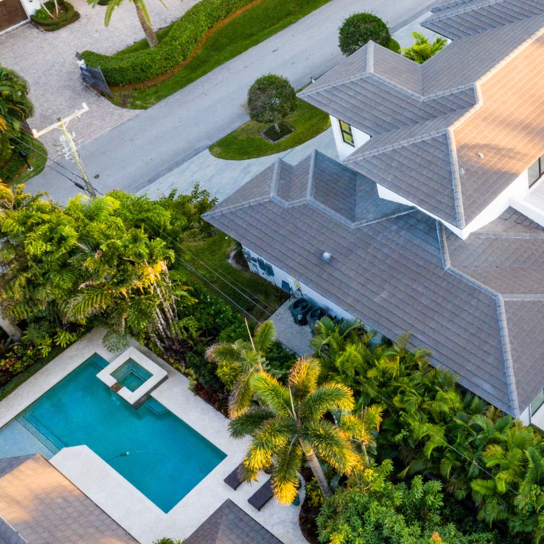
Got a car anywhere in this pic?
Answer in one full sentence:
No, there appears to be no car in this shot.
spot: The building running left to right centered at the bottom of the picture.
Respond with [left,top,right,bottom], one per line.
[181,496,284,544]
